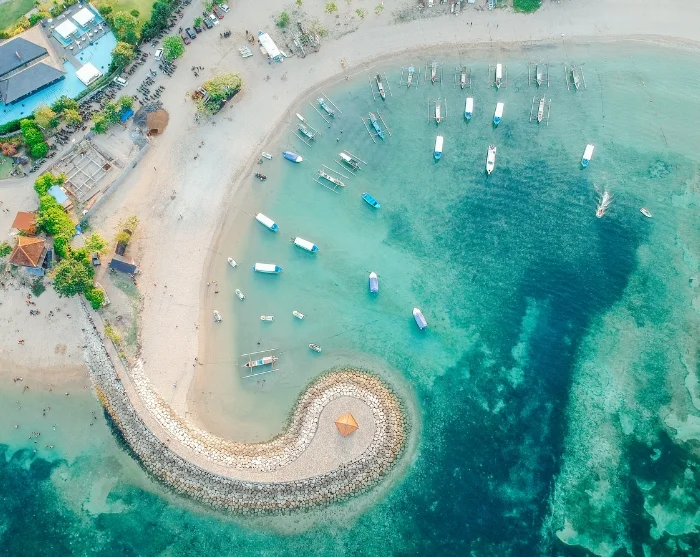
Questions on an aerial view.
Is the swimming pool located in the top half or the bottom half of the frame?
top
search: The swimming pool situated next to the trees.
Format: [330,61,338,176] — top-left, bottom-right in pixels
[0,1,113,125]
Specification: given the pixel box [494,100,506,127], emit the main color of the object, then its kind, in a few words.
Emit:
white boat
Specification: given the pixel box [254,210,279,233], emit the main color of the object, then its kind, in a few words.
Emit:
white boat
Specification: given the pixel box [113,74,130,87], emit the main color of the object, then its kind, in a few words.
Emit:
white vehicle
